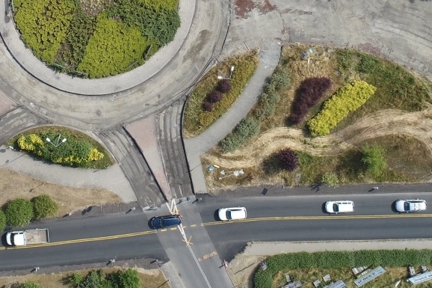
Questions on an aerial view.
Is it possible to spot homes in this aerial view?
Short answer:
No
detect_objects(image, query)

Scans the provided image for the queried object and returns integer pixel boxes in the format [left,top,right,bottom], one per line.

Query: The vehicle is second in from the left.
[149,214,180,227]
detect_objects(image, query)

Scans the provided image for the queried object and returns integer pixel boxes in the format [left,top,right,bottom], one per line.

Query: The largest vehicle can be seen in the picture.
[6,231,49,248]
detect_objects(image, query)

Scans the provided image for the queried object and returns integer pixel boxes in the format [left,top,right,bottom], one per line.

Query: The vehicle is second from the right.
[325,200,354,213]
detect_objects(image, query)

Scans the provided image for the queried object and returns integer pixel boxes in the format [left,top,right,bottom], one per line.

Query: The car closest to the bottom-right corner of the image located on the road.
[393,199,425,213]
